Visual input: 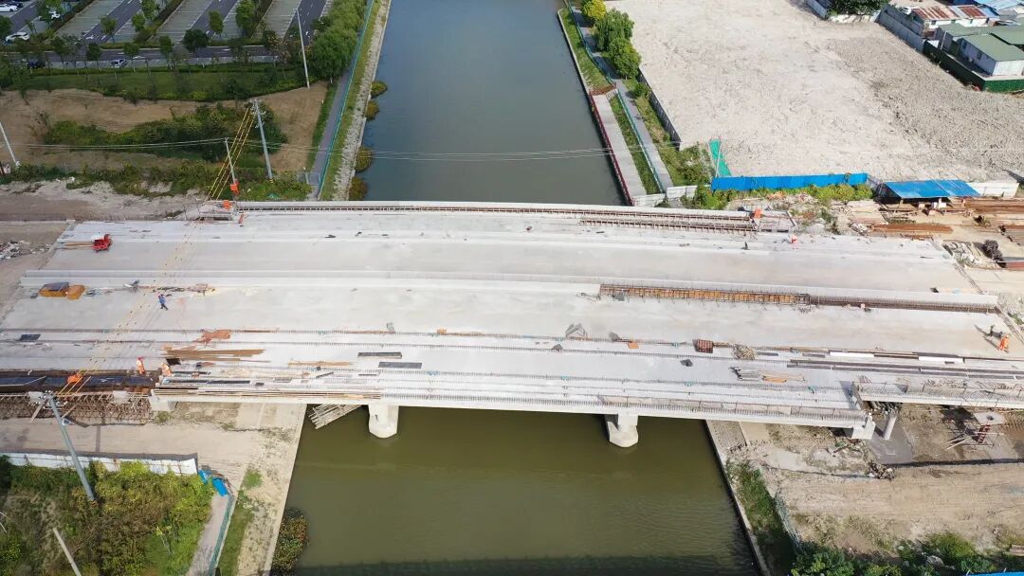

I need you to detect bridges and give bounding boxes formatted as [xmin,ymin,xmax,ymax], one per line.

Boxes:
[0,197,1024,447]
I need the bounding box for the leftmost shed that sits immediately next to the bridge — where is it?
[880,179,981,211]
